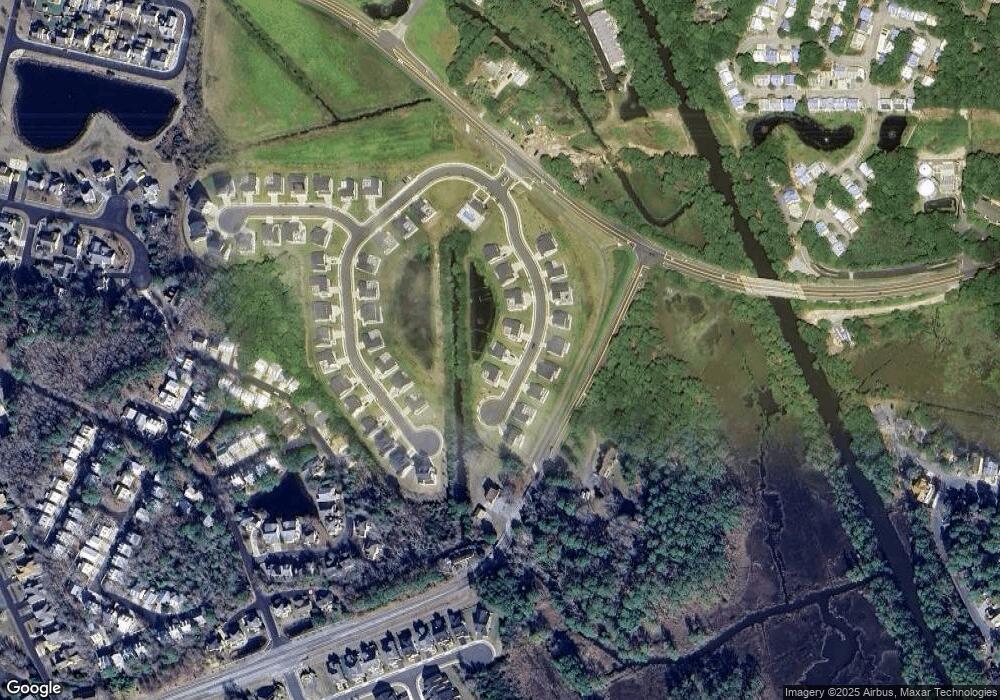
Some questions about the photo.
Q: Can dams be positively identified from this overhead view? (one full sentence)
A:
No, I find no dam anywhere in the image.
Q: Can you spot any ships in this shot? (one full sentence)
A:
No, no ship is visible in the view.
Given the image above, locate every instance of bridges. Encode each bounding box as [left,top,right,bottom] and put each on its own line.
[740,276,807,300]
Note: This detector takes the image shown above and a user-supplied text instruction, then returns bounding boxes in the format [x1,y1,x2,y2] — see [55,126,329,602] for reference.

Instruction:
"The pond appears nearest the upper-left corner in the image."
[14,59,180,153]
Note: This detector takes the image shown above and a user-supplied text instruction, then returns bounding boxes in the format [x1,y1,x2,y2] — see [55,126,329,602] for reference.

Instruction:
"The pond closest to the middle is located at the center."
[468,261,495,361]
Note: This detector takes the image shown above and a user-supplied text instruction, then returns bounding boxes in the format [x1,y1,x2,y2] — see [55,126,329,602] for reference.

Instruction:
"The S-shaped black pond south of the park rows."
[747,112,854,150]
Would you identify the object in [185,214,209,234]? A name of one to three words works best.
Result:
house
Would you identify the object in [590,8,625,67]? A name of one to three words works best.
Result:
building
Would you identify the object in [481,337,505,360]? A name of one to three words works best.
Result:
house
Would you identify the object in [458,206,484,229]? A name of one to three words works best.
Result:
swimming pool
